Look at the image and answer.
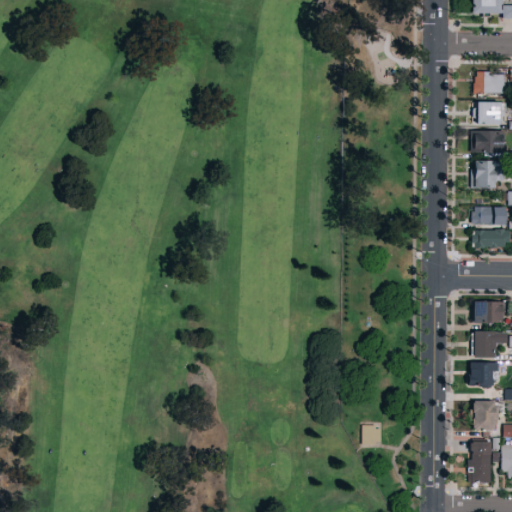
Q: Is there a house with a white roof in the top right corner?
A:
Yes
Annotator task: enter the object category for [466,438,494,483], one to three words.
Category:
building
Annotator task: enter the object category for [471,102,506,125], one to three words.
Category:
house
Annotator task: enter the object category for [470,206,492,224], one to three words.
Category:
house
